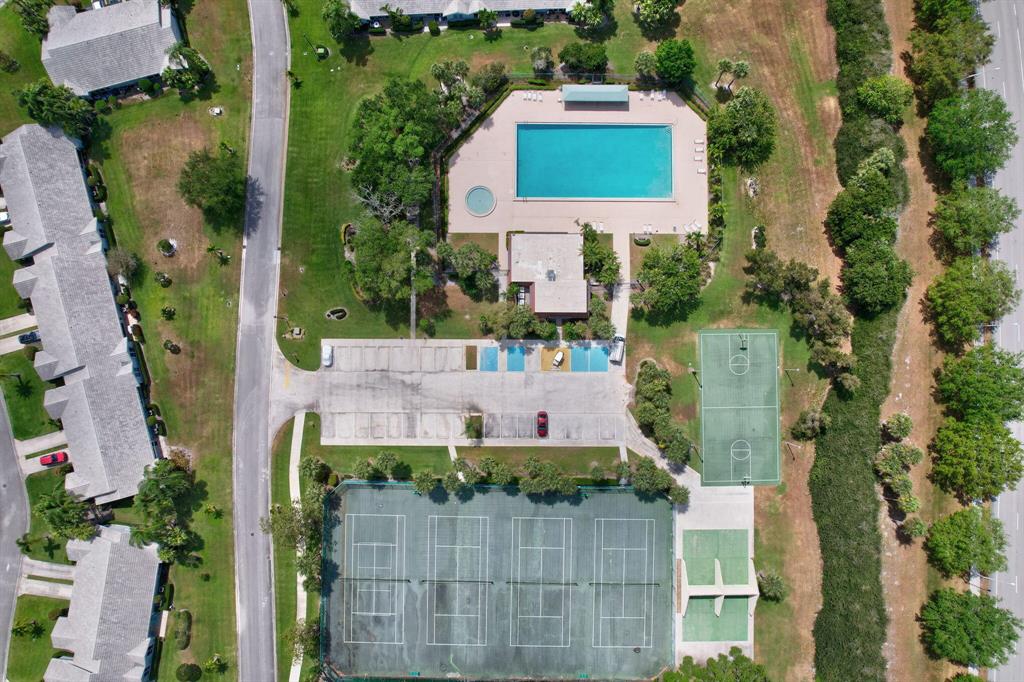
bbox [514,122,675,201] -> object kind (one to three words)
swimming pool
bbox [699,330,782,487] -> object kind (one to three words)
basketball court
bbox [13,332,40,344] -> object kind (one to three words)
vehicle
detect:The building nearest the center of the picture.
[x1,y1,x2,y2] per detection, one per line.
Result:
[507,234,588,318]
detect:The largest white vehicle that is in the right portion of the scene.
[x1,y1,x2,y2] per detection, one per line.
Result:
[610,337,625,365]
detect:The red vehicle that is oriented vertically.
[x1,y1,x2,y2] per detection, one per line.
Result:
[537,411,549,438]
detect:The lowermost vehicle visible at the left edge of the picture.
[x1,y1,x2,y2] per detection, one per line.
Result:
[40,453,66,467]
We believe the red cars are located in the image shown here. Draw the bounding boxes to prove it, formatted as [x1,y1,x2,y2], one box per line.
[40,453,66,467]
[537,411,549,438]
